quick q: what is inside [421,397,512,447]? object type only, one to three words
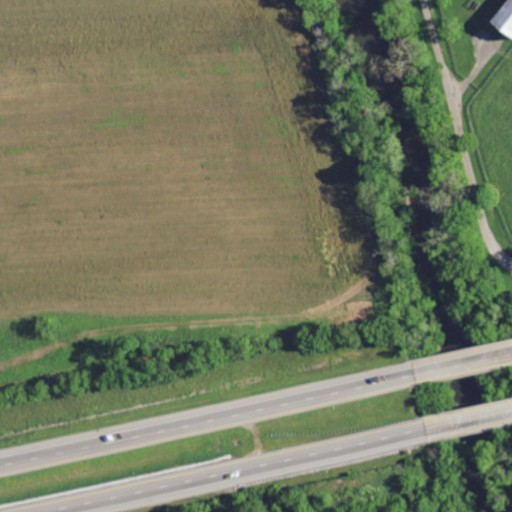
bridge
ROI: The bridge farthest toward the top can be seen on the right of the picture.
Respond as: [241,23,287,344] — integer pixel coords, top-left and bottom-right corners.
[409,339,512,390]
